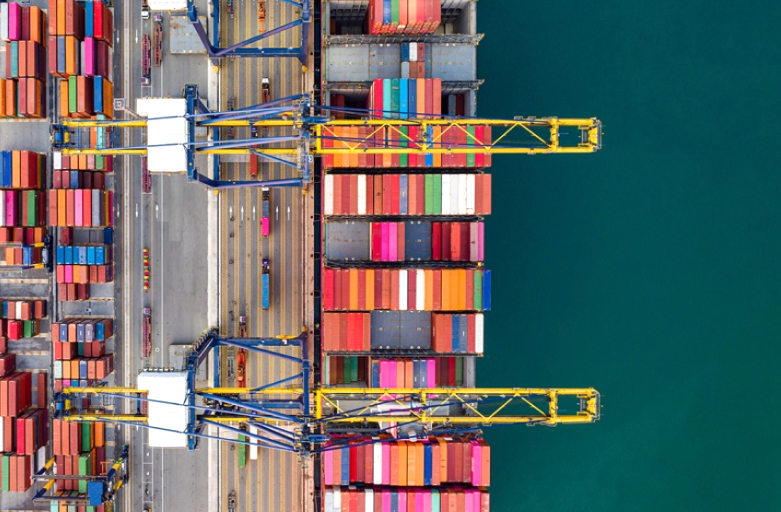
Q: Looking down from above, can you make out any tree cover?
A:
No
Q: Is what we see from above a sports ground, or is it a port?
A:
port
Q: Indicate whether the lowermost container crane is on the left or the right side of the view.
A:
left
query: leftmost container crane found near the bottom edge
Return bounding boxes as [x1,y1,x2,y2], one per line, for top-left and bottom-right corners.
[27,449,127,508]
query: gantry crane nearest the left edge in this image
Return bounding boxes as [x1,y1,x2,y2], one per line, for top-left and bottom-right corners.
[0,231,53,270]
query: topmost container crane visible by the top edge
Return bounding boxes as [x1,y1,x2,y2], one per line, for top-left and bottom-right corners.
[144,0,313,65]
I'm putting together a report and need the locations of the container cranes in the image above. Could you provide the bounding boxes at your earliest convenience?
[47,87,608,192]
[144,0,313,65]
[47,330,607,460]
[27,449,127,508]
[0,231,53,270]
